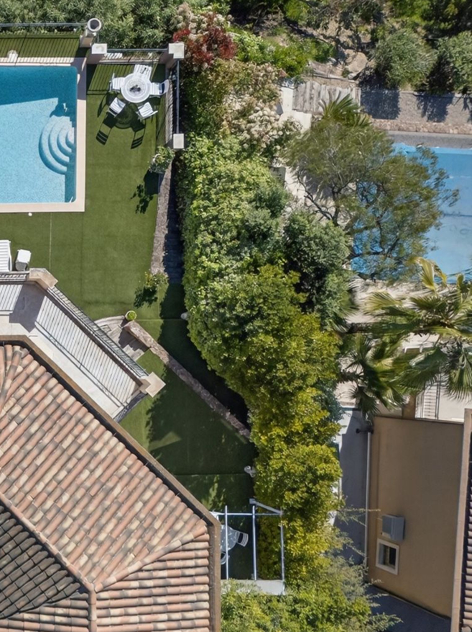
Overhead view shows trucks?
No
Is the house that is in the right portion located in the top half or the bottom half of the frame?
bottom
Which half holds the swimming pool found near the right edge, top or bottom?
top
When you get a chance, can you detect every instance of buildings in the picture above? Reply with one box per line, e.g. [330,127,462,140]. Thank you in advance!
[371,409,472,632]
[0,339,220,632]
